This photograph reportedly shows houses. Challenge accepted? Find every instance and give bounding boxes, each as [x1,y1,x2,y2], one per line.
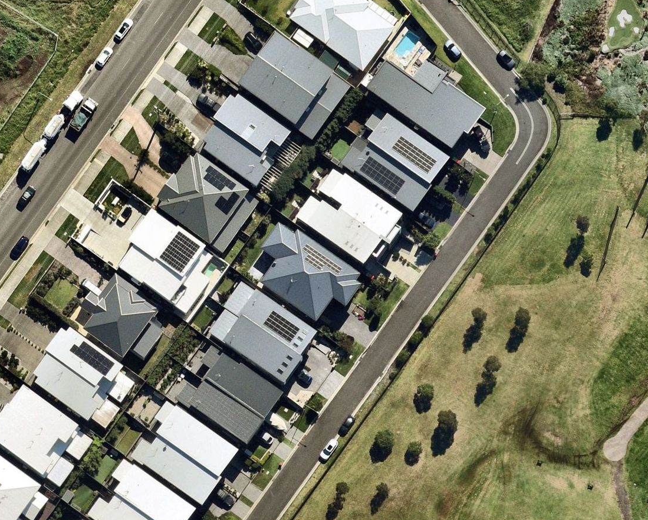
[341,111,450,211]
[360,61,485,148]
[209,281,317,383]
[260,222,362,321]
[0,384,93,487]
[202,94,291,187]
[0,456,49,520]
[118,208,213,313]
[33,326,135,428]
[239,31,351,141]
[81,273,164,361]
[87,458,197,520]
[130,401,238,506]
[157,154,259,251]
[175,345,284,445]
[290,0,397,72]
[296,169,404,264]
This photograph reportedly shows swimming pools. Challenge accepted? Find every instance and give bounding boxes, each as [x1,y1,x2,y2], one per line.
[391,29,422,60]
[203,261,219,280]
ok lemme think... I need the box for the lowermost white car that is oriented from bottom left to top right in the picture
[316,437,341,464]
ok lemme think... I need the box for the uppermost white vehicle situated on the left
[113,18,133,42]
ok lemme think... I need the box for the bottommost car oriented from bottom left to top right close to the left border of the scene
[9,235,30,261]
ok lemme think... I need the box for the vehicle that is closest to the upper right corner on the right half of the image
[497,50,515,70]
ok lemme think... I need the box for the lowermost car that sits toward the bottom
[216,488,236,508]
